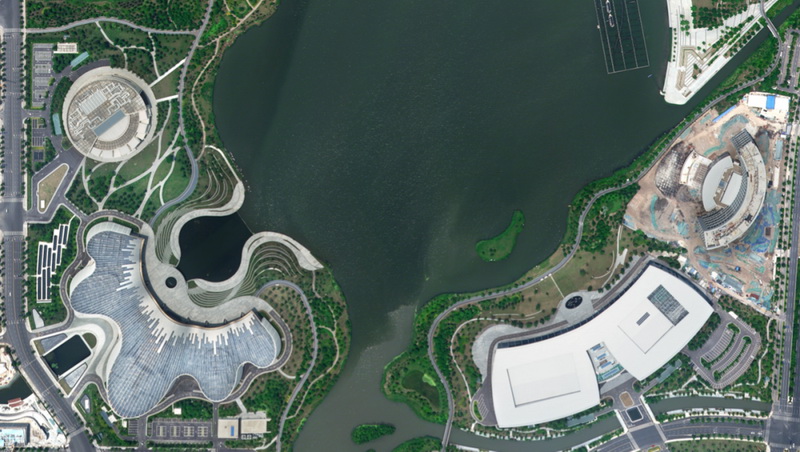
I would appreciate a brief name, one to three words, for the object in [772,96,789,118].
building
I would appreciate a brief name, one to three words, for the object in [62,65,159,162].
building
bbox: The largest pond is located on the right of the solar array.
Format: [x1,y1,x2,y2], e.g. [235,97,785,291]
[178,209,252,282]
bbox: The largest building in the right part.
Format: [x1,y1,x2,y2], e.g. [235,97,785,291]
[492,262,717,427]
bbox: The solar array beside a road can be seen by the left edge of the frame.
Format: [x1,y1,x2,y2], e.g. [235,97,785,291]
[28,215,76,303]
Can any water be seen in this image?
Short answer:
Yes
